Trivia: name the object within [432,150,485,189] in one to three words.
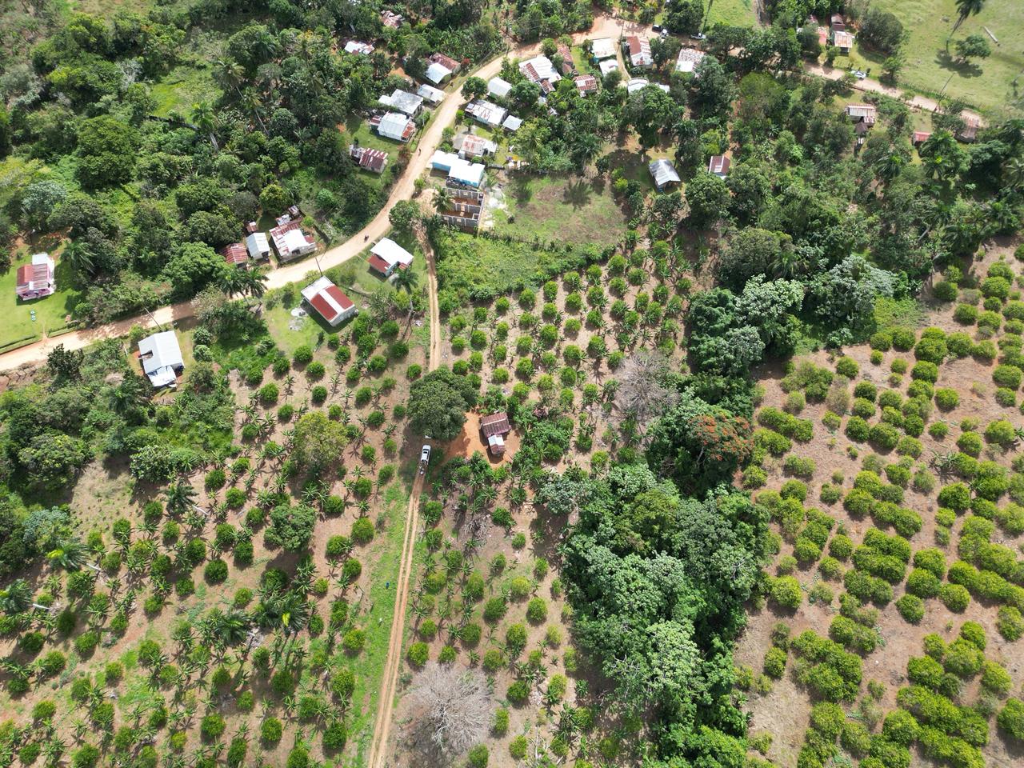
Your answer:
house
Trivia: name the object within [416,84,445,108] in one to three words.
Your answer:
shed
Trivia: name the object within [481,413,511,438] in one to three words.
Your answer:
shed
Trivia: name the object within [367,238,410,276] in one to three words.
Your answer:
house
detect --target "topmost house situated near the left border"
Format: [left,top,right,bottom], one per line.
[16,252,60,299]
